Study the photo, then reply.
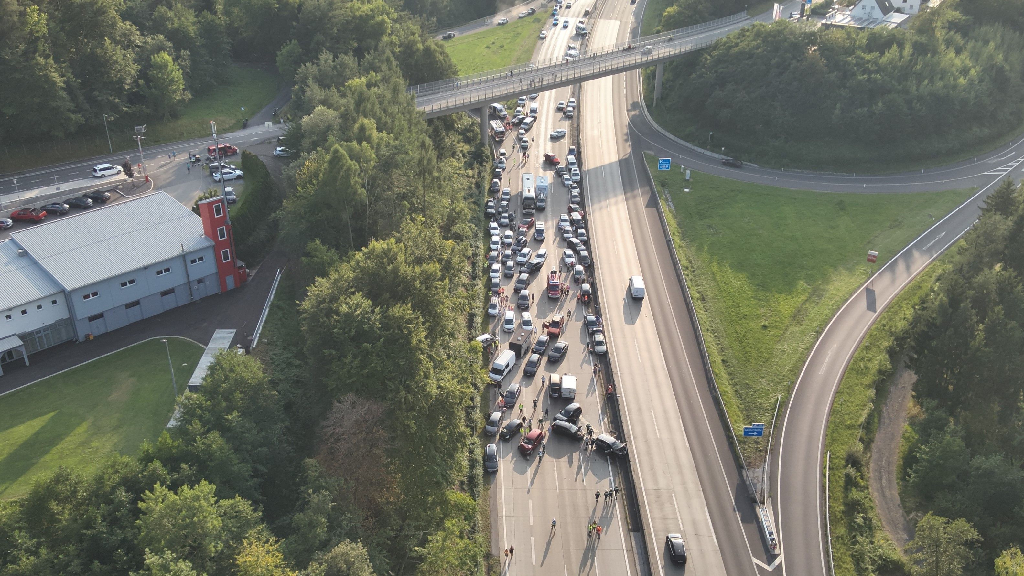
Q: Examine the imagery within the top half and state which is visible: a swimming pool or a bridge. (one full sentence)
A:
What appears within the top half is a bridge.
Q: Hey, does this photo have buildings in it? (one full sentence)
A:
Yes, the image includes a building.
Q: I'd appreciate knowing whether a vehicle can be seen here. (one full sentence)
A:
Yes, looking at the shot, I can spot a vehicle.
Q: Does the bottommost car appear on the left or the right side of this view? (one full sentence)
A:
The bottommost car is on the right side of the image.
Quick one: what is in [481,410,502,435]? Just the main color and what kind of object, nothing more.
gray car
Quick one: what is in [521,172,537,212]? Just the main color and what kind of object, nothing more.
white vehicle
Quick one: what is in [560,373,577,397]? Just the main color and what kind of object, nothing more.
white vehicle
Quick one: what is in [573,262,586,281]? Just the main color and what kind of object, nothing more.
gray vehicle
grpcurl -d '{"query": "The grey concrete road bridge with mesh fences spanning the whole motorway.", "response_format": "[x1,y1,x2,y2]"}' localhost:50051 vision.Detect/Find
[405,7,772,147]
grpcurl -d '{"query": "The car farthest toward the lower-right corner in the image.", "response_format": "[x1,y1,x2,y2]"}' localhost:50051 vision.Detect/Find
[666,531,687,562]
